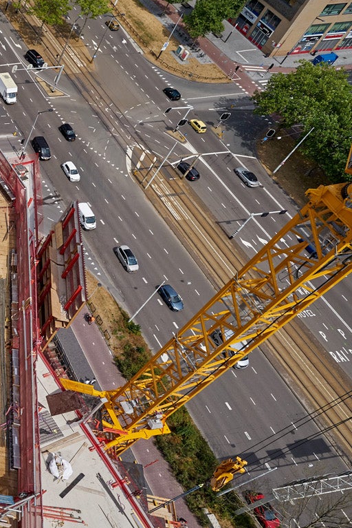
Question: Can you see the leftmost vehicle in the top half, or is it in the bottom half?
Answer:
top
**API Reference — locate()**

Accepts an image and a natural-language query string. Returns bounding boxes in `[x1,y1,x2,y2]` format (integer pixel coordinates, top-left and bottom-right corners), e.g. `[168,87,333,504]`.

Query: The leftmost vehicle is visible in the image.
[0,71,20,109]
